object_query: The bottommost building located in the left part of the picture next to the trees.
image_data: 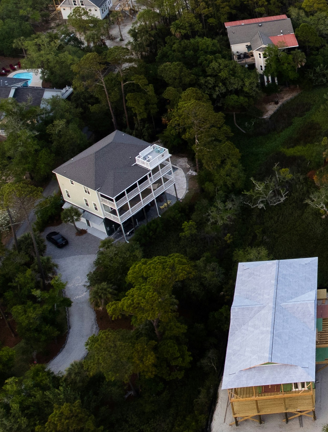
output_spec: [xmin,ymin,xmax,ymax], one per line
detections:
[53,131,181,236]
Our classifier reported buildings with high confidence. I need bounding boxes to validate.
[225,13,298,86]
[222,257,328,430]
[0,77,94,150]
[44,0,144,34]
[53,131,181,236]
